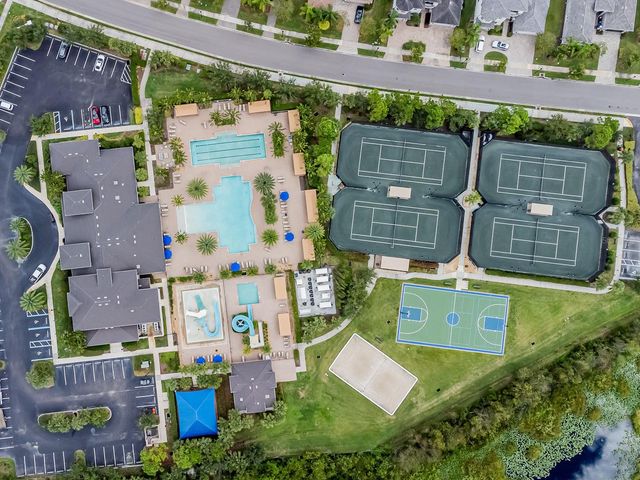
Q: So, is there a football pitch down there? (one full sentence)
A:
No, I find no football pitch anywhere in the image.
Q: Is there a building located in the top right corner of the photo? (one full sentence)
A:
Yes, in the top right corner of the photo there is a building.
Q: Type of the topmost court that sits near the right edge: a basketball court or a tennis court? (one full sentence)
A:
It looks like the topmost court that sits near the right edge is a tennis court.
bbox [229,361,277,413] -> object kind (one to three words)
building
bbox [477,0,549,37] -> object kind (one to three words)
house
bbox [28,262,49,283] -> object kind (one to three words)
car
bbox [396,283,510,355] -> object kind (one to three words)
basketball court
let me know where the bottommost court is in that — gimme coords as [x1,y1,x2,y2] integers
[329,334,418,415]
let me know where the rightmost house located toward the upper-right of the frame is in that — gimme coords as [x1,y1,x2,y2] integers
[561,0,636,46]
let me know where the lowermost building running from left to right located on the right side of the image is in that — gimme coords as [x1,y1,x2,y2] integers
[381,256,410,272]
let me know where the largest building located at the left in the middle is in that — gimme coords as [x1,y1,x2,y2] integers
[49,140,167,346]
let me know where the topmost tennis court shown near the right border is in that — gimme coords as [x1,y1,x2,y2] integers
[479,140,610,215]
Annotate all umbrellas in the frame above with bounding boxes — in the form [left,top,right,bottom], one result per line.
[163,235,172,244]
[279,191,289,201]
[231,262,240,272]
[196,355,206,364]
[164,249,173,259]
[213,354,222,363]
[285,232,294,242]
